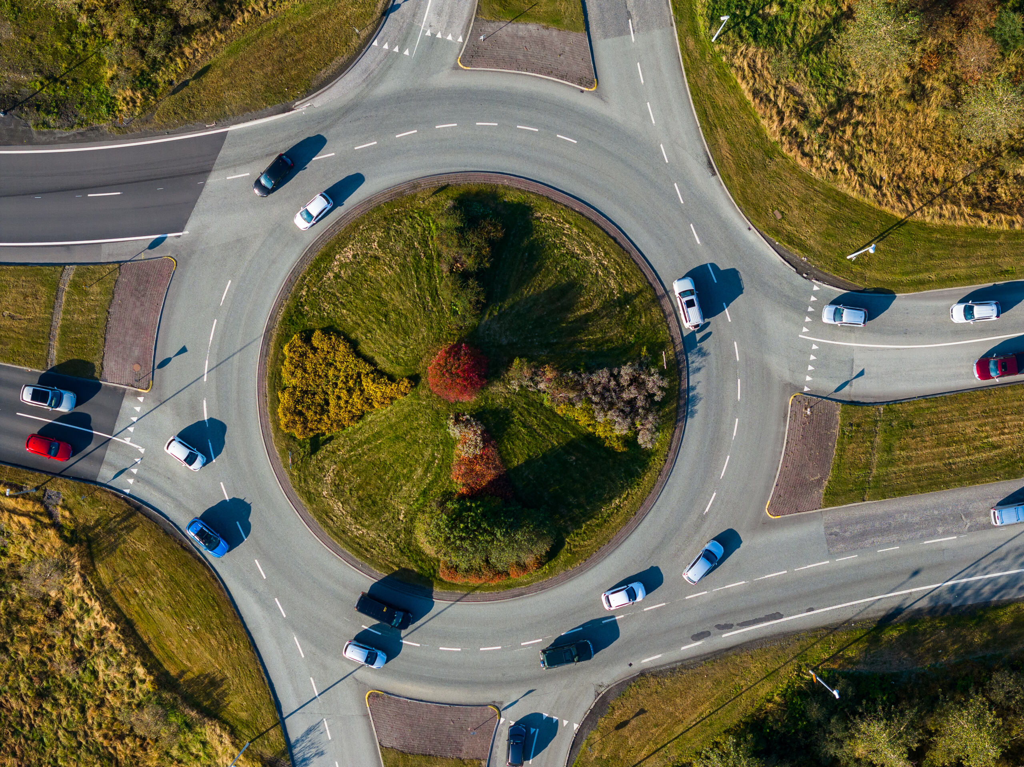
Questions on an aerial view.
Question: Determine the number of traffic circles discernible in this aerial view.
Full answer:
In total, 1 traffic circle can be seen.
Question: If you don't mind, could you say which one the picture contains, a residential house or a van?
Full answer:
There is a van in the scene.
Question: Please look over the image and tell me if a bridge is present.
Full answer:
No, the photo shows no bridge.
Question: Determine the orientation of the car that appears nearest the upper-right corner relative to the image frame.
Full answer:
The car that appears nearest the upper-right corner runs horizontally in the image.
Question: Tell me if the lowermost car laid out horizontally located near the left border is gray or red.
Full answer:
The lowermost car laid out horizontally located near the left border is red.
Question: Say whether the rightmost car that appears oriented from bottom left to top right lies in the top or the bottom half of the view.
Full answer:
Seen from above, the rightmost car that appears oriented from bottom left to top right lies in the bottom half of the view.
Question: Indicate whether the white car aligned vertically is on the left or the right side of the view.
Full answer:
You can find the white car aligned vertically on the right side of the picture.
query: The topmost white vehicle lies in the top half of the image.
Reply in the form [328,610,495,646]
[295,192,333,230]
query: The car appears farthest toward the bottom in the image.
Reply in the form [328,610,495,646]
[505,724,527,767]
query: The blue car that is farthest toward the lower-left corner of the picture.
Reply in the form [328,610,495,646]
[186,518,230,558]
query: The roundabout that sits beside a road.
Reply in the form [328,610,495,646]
[158,74,784,700]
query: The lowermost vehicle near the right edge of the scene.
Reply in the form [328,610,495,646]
[988,502,1024,526]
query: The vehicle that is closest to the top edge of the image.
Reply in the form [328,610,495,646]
[255,155,293,196]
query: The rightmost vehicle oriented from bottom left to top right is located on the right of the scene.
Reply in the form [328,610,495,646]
[683,540,723,584]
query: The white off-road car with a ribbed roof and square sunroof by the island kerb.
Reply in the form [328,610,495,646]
[674,276,703,328]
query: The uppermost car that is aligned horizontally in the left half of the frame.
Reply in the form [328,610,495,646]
[20,385,77,412]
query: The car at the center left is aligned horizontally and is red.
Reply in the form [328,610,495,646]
[25,434,73,461]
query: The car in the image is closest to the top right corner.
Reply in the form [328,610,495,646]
[948,301,1001,324]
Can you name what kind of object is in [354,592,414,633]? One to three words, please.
van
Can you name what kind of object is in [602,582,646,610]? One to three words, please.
car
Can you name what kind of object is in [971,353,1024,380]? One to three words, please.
truck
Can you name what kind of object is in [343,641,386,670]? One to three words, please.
car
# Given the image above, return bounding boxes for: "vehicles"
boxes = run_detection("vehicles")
[674,276,703,328]
[354,592,414,633]
[164,436,207,471]
[505,724,527,767]
[255,155,293,196]
[948,301,1001,324]
[186,518,230,558]
[988,502,1024,526]
[602,582,646,610]
[971,353,1024,380]
[343,641,386,670]
[541,641,594,669]
[821,303,869,327]
[295,192,333,230]
[683,540,723,584]
[25,434,73,461]
[20,385,77,412]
